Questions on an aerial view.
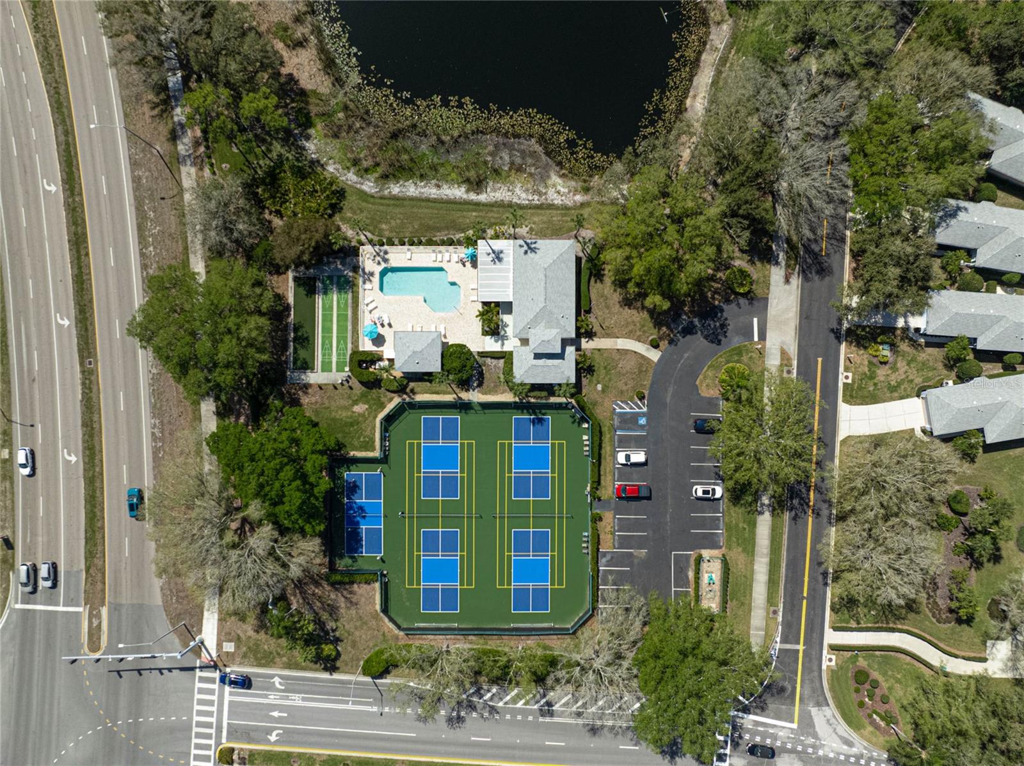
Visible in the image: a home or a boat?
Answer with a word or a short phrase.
home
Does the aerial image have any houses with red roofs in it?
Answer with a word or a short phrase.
No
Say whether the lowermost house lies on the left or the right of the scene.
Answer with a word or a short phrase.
right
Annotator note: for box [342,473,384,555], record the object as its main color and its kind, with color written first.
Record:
blue sports court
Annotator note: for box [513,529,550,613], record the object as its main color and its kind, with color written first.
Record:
blue sports court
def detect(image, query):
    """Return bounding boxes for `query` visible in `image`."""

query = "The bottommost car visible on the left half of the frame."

[221,673,250,689]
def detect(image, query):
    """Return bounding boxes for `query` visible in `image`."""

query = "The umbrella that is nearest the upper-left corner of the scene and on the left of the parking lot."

[363,324,378,339]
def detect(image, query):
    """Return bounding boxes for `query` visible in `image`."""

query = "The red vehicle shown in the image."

[615,484,649,499]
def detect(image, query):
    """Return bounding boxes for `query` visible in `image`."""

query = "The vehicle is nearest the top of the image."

[693,419,722,432]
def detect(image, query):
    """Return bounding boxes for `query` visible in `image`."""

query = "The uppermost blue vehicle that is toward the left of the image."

[127,488,143,518]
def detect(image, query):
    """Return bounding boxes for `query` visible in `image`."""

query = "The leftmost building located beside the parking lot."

[513,240,579,384]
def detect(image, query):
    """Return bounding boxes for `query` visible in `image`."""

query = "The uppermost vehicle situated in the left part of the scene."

[17,447,34,476]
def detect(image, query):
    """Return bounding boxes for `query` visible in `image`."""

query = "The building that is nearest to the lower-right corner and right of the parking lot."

[920,374,1024,440]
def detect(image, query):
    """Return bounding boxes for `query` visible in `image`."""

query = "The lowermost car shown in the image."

[745,742,775,759]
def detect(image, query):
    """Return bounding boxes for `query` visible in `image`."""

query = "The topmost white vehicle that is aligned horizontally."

[617,451,646,465]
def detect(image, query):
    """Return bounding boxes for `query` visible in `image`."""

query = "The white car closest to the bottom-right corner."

[692,485,721,499]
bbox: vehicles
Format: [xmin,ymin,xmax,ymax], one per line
[221,673,250,689]
[615,484,649,499]
[617,451,646,465]
[17,447,34,476]
[127,488,143,518]
[692,485,721,499]
[745,742,775,759]
[693,419,722,432]
[40,561,57,588]
[19,561,37,593]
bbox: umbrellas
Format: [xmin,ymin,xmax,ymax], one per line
[463,247,477,262]
[363,324,378,339]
